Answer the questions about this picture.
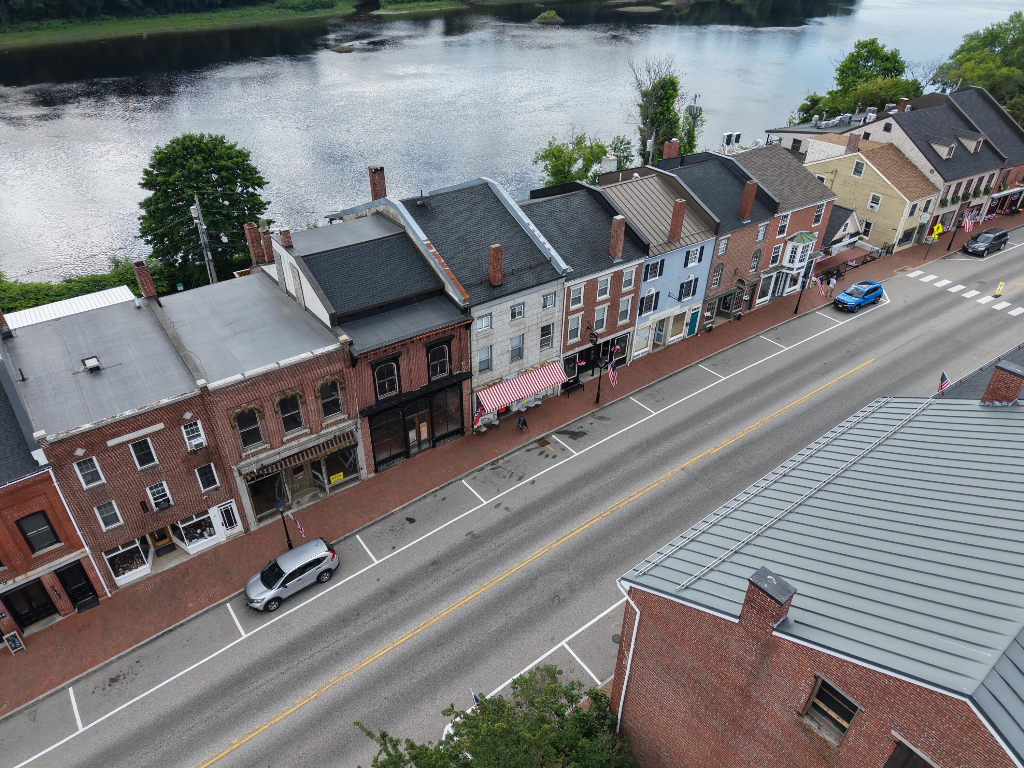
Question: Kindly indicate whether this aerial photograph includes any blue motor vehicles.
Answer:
Yes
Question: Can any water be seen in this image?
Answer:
Yes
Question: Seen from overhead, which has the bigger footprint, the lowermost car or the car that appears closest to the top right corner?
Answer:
the lowermost car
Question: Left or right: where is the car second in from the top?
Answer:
right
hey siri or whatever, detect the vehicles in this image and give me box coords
[239,536,340,616]
[963,226,1013,257]
[834,278,888,313]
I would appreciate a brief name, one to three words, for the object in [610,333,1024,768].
warehouse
